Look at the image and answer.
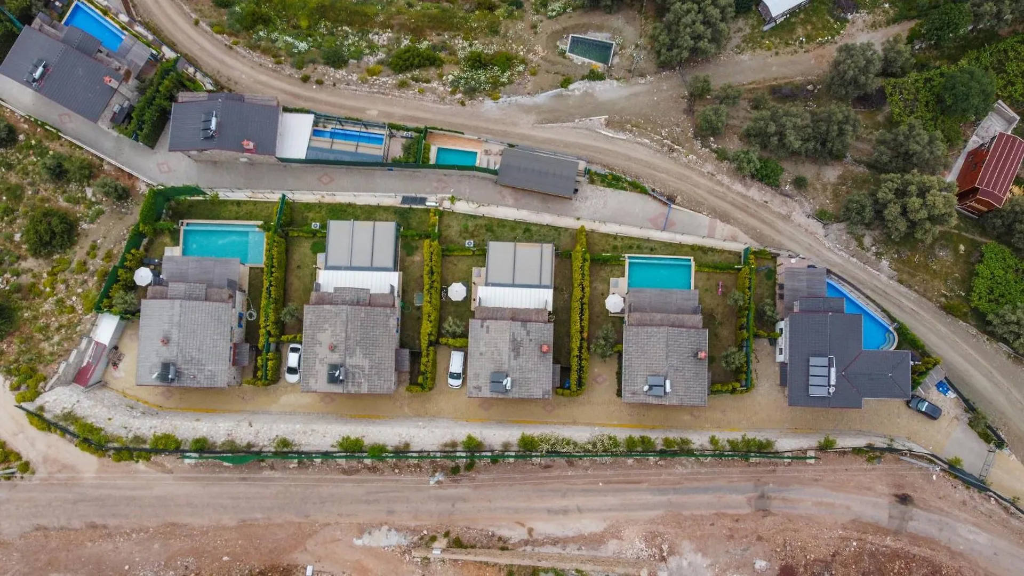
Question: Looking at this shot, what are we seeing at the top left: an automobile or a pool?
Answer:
pool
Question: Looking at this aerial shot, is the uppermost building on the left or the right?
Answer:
right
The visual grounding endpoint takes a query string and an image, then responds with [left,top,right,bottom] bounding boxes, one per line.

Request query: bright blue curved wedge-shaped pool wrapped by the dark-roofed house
[826,280,899,350]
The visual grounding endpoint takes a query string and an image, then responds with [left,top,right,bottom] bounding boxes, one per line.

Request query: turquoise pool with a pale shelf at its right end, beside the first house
[180,220,267,267]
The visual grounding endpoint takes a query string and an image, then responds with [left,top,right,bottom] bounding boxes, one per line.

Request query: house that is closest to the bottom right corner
[773,297,912,409]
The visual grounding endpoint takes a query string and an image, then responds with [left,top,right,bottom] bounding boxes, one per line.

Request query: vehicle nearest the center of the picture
[447,350,466,387]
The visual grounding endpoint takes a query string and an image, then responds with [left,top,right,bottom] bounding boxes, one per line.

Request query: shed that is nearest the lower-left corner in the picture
[67,313,121,387]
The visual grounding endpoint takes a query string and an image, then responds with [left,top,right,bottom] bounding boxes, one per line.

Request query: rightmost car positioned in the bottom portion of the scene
[904,394,943,421]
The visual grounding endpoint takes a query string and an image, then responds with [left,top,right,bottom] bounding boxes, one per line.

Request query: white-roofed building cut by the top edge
[748,0,811,30]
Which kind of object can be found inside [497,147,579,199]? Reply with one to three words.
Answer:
house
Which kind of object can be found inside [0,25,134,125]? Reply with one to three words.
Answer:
house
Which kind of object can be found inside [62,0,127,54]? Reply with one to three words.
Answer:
swimming pool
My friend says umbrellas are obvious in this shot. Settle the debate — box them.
[605,294,623,312]
[136,267,157,285]
[448,282,466,300]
